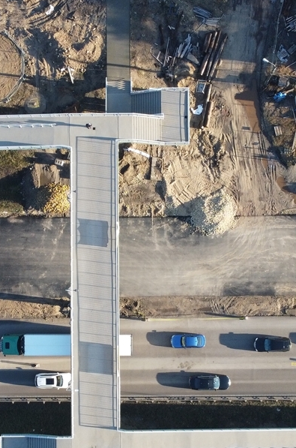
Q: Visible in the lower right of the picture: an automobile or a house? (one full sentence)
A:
It is an automobile that can be seen in the lower right of the picture.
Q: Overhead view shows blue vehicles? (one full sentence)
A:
Yes, I can see a blue vehicle in this picture.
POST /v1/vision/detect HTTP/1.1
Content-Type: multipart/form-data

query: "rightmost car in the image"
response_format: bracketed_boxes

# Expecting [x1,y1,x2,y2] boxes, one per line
[254,335,291,353]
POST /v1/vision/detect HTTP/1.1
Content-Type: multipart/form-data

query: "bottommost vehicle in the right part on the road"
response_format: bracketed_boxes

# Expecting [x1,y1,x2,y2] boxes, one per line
[188,373,230,391]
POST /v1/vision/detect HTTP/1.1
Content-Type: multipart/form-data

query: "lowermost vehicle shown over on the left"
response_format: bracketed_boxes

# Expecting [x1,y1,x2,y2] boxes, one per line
[35,372,73,389]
